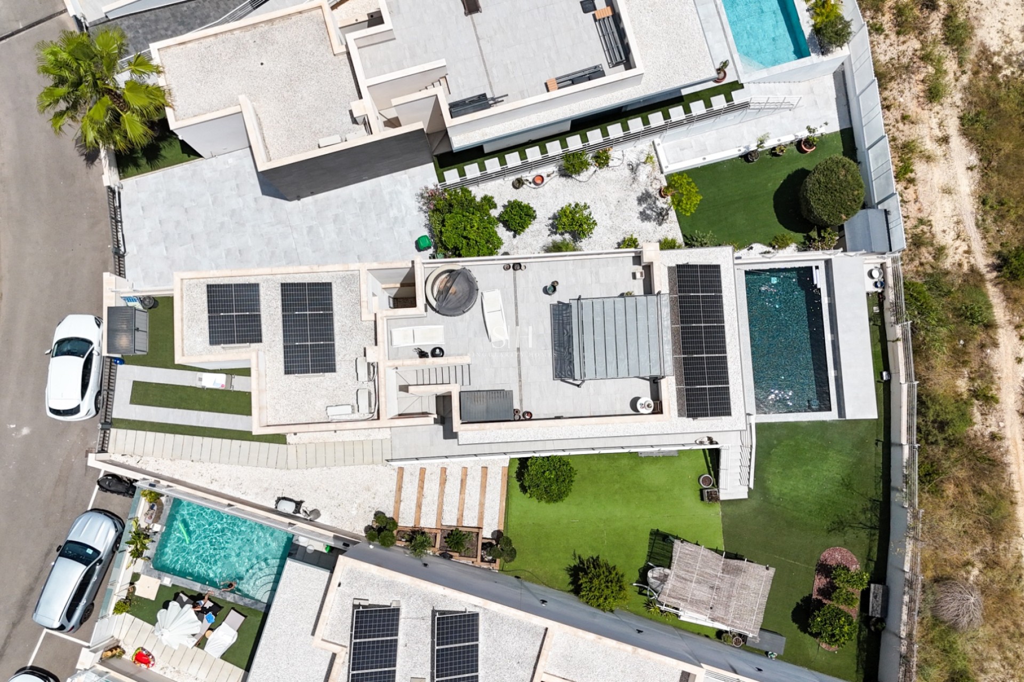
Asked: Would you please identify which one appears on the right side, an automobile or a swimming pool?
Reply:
swimming pool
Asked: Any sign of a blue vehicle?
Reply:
No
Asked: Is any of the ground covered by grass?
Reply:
Yes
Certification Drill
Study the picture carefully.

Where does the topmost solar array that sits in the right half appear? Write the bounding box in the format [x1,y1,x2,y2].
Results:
[673,257,731,425]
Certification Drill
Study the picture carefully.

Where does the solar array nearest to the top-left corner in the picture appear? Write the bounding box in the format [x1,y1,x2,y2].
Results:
[207,280,262,353]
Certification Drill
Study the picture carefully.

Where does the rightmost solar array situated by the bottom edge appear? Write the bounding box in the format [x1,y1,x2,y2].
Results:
[435,609,479,682]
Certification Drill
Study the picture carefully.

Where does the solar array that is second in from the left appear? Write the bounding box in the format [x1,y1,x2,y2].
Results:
[281,279,336,382]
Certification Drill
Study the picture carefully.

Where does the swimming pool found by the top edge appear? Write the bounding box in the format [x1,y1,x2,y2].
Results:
[720,0,851,85]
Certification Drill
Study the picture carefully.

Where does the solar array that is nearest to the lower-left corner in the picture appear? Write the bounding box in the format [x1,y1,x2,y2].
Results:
[349,597,401,682]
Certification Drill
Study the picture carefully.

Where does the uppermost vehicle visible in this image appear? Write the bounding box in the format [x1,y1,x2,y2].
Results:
[43,313,107,423]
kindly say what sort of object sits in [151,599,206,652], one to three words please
umbrella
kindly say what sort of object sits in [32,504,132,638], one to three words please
car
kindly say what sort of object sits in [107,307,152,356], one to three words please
shed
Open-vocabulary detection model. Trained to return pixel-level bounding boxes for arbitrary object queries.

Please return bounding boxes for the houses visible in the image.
[250,528,835,682]
[149,0,718,200]
[174,242,747,445]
